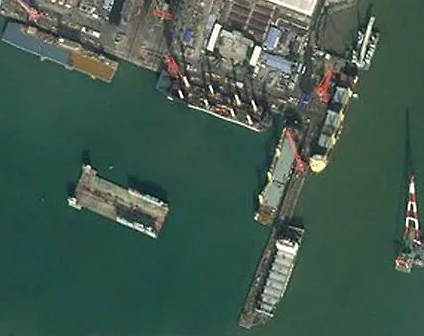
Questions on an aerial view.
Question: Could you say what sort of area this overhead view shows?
port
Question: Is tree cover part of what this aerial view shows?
No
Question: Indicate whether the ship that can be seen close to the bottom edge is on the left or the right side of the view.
right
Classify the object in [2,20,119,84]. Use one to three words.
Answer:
ship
